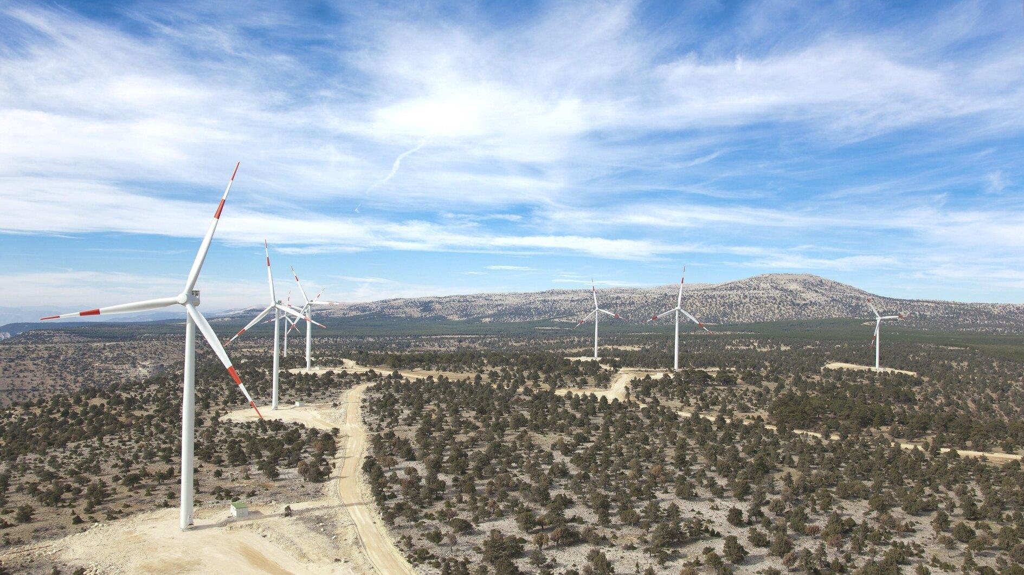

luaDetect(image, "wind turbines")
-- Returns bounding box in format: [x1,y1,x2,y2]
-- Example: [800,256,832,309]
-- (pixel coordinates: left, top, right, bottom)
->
[285,266,343,371]
[576,281,625,357]
[41,162,261,532]
[226,239,324,409]
[864,294,903,366]
[283,289,323,356]
[644,269,709,371]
